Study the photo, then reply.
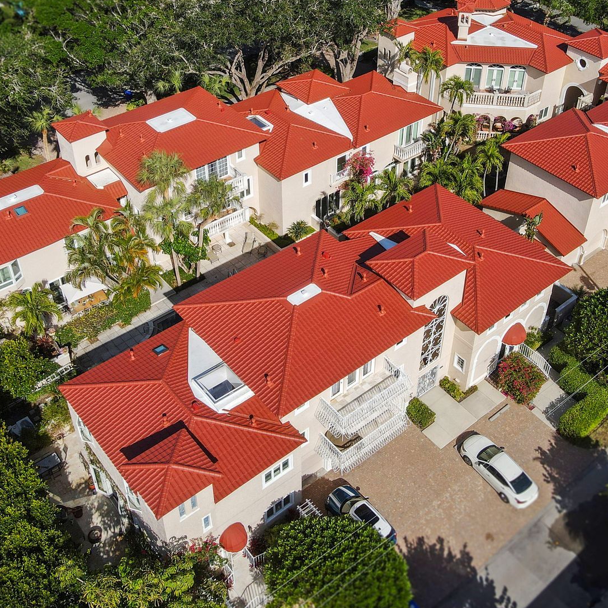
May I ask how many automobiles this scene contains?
2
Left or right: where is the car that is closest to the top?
right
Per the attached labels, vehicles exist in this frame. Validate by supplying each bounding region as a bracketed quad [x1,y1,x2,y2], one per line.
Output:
[457,431,544,508]
[328,486,395,552]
